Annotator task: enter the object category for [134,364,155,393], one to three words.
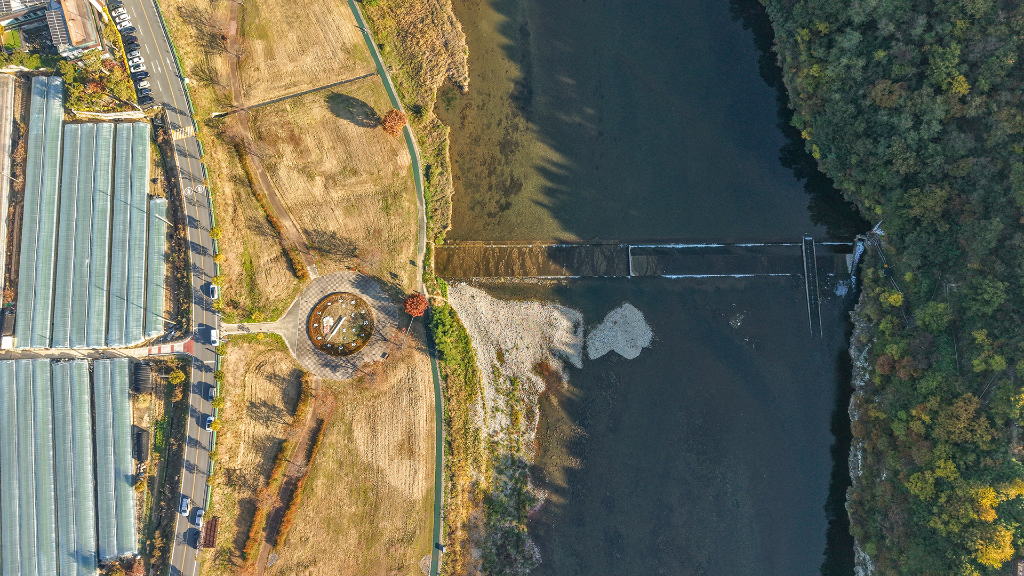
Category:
shed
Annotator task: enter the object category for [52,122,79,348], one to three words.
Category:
greenhouse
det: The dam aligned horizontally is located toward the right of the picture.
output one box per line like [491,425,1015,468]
[435,239,855,279]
